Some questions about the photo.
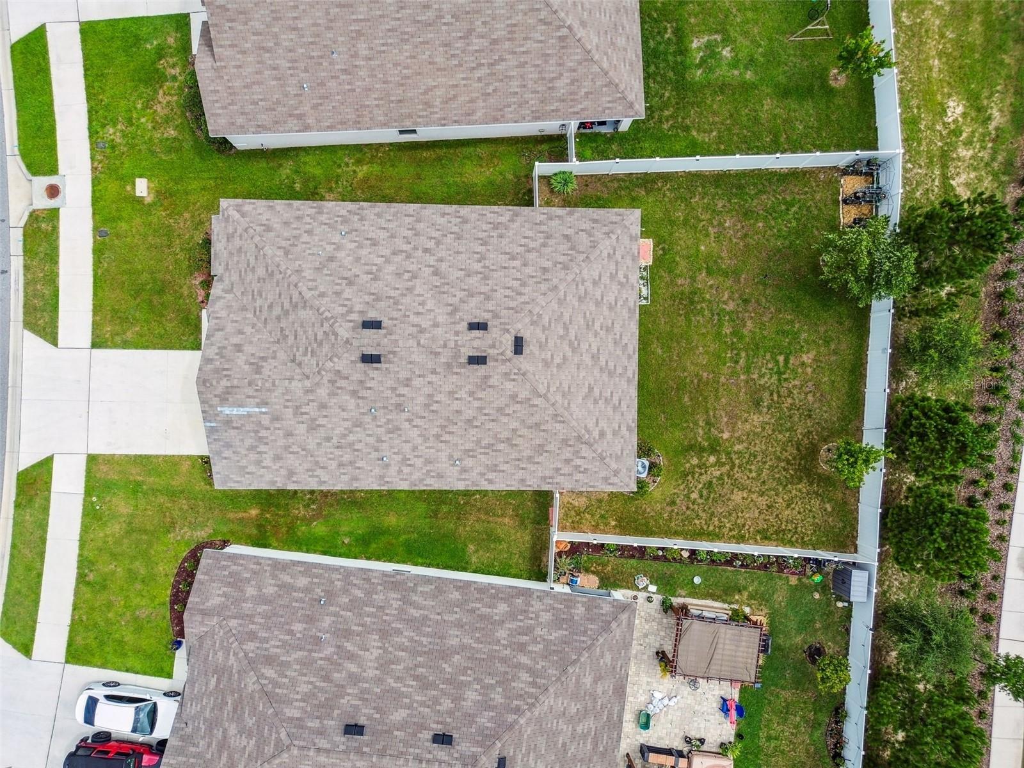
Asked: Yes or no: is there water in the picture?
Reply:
No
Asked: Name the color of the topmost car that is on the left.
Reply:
white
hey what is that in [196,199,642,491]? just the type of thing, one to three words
house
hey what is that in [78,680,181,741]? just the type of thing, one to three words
car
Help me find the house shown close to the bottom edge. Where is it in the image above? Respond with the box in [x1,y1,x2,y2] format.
[159,545,637,768]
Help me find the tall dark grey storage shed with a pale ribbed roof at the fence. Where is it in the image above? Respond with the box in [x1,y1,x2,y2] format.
[832,562,869,603]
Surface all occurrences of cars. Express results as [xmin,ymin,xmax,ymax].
[65,730,167,768]
[78,680,181,741]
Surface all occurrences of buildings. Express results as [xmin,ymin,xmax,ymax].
[195,0,644,150]
[832,562,869,603]
[196,199,642,491]
[159,545,637,768]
